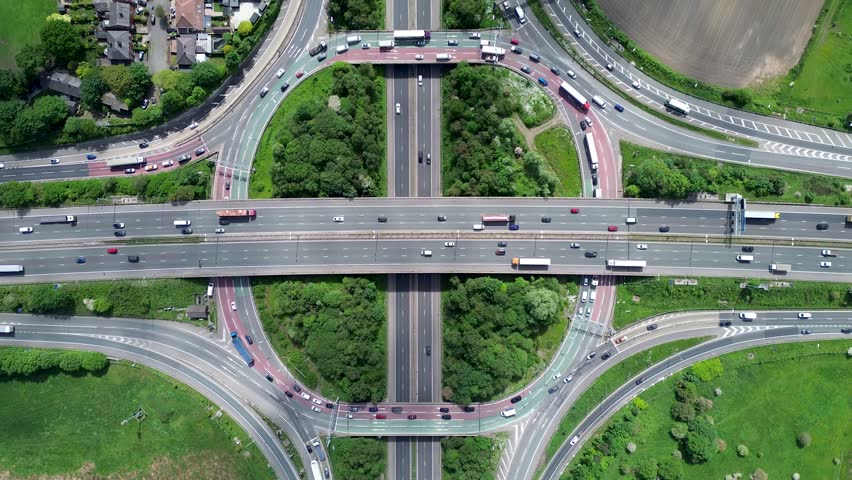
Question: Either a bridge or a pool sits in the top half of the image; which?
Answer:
bridge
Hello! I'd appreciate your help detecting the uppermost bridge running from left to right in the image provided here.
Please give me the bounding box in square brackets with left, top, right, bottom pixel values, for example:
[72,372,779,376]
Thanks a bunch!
[349,30,478,66]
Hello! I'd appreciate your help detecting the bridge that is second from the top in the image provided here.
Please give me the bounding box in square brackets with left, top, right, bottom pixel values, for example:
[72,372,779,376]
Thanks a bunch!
[185,196,646,277]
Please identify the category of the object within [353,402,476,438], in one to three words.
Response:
bridge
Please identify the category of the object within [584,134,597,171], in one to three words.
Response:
vehicle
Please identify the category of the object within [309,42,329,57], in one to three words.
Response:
vehicle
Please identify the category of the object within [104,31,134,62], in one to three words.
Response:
house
